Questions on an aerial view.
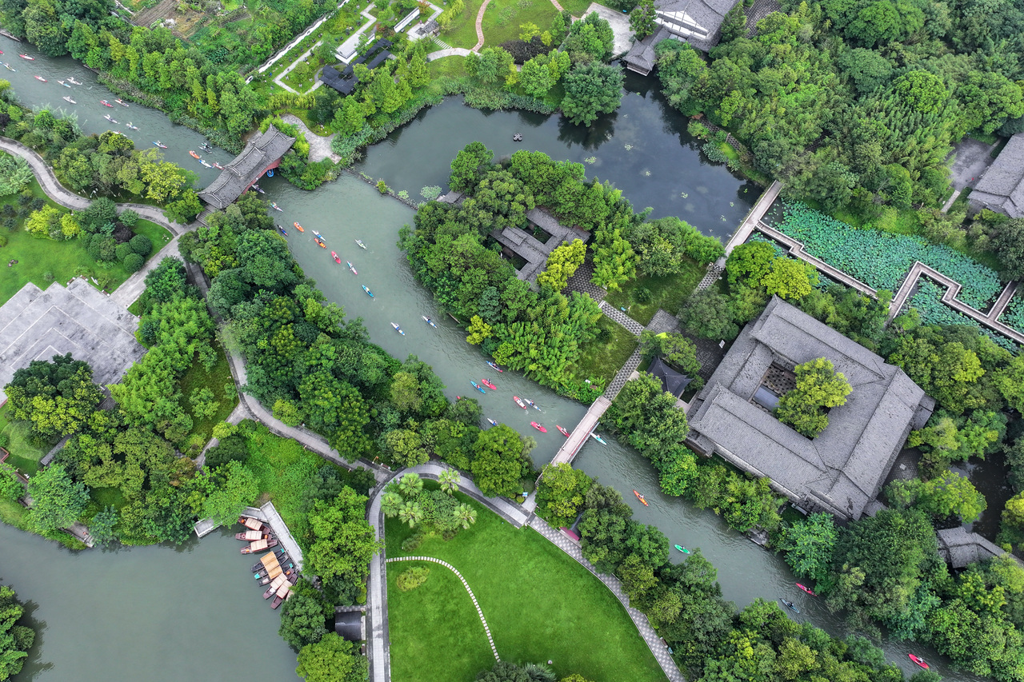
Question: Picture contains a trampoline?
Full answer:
No, there appears to be no trampoline in this shot.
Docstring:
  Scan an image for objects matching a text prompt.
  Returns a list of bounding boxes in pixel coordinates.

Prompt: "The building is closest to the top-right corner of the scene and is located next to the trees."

[965,128,1024,224]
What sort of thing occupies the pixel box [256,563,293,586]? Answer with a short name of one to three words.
boat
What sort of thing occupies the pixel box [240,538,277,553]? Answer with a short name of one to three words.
boat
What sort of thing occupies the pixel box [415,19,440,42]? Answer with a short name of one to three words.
shed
